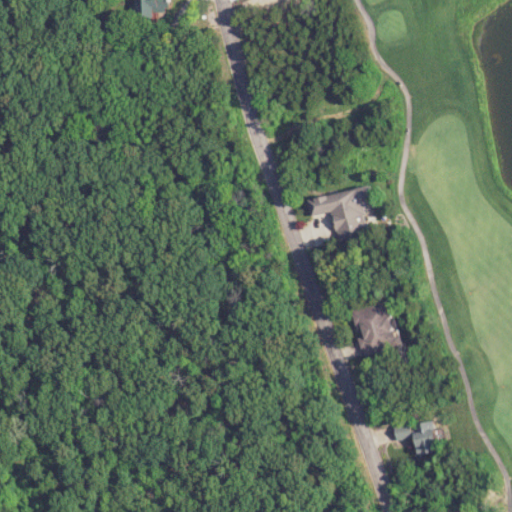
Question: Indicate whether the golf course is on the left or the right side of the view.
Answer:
right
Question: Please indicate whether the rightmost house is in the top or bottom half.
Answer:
bottom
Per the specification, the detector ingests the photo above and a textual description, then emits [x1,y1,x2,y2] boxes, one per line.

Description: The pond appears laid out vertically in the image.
[480,0,512,188]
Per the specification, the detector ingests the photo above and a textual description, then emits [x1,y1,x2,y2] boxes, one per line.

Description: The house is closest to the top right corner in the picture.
[307,187,372,236]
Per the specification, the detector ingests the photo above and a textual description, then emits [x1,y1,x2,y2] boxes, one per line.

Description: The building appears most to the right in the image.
[412,422,444,456]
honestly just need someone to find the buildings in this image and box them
[142,0,168,20]
[412,422,444,456]
[353,306,404,358]
[307,187,372,236]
